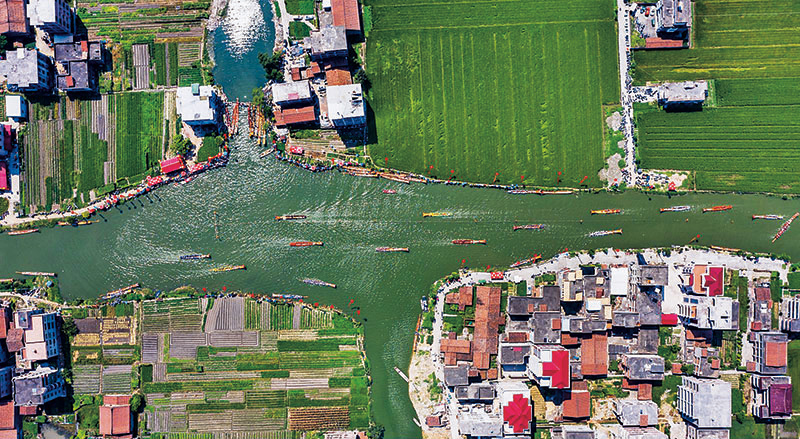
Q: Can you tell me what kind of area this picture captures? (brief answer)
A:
residential area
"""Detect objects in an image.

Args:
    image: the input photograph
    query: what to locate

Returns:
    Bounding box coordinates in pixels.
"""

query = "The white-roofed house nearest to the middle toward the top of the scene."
[327,84,367,128]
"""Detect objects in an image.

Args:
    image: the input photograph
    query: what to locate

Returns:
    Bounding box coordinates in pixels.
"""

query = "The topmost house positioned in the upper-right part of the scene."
[652,0,691,33]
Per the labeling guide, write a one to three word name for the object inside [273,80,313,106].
house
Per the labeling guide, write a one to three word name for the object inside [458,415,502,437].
house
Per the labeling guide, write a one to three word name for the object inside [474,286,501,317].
building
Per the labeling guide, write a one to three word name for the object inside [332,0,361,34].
building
